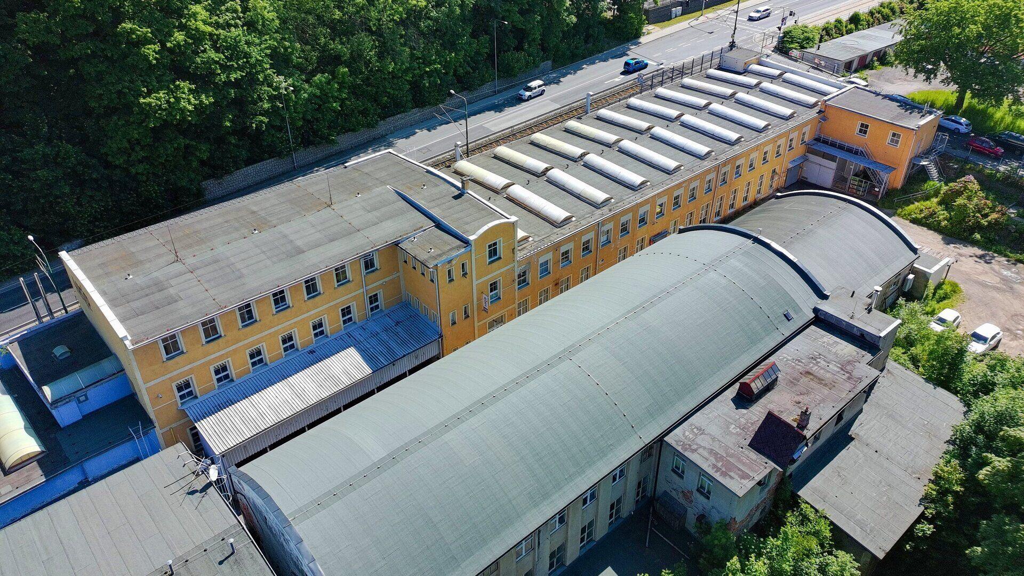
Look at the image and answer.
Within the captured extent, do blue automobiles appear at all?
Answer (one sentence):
Yes, looking at the shot, I can spot a blue automobile.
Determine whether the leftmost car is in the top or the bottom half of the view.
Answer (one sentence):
You can find the leftmost car in the top half.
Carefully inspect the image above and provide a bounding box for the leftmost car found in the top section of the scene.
[517,78,548,99]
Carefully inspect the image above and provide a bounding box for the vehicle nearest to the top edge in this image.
[746,4,771,20]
